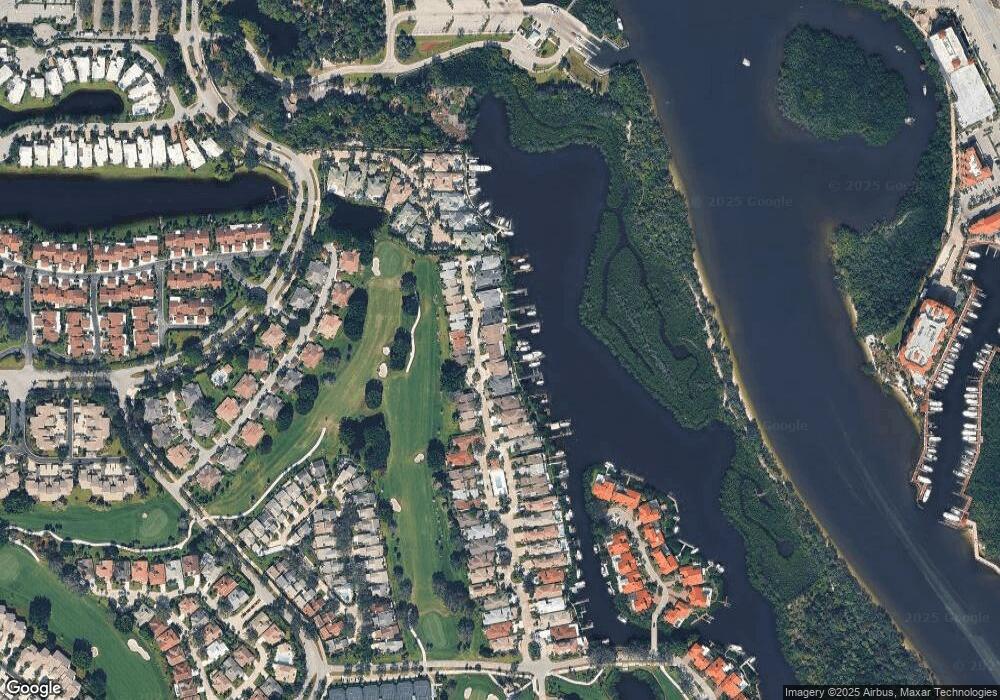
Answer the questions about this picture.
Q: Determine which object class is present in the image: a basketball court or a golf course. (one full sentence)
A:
The image shows a golf course.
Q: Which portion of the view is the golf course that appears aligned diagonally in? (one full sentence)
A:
Look in the bottom left portion of the view to spot the golf course that appears aligned diagonally.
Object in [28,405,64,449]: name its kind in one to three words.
building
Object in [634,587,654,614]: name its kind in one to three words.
house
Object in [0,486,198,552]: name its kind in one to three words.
golf course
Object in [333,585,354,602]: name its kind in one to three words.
swimming pool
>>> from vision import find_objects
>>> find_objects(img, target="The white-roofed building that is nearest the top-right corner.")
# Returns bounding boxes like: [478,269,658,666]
[931,24,979,74]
